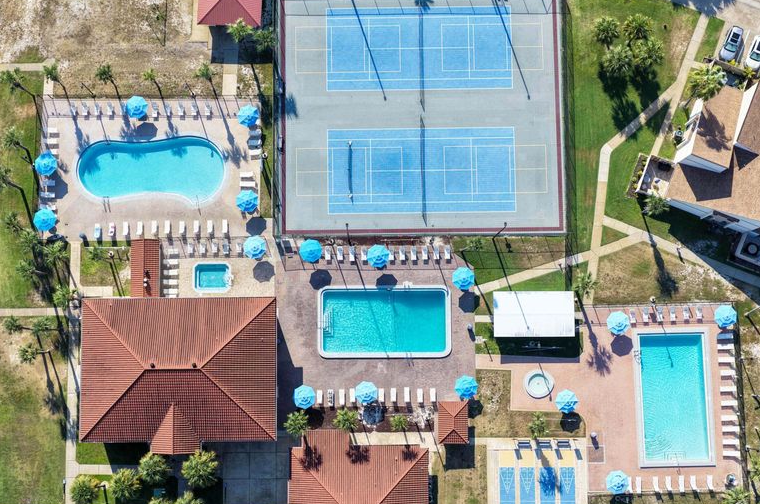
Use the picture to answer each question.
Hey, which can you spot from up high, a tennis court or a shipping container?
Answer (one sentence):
Visible in the photo is a tennis court.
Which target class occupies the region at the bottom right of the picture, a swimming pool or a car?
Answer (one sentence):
Looking at the bottom right of the picture, you will find a swimming pool.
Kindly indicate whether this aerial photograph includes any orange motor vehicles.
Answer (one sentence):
No, there isn't any orange motor vehicle down there.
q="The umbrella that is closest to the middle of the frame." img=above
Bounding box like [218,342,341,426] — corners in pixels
[367,246,390,269]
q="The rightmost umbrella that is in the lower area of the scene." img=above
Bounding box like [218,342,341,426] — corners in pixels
[713,305,736,327]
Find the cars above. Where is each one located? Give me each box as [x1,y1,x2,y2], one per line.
[720,23,745,61]
[745,33,760,71]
